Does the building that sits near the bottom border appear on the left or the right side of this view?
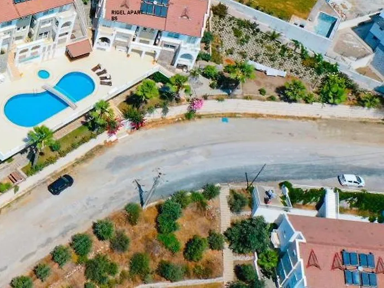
right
